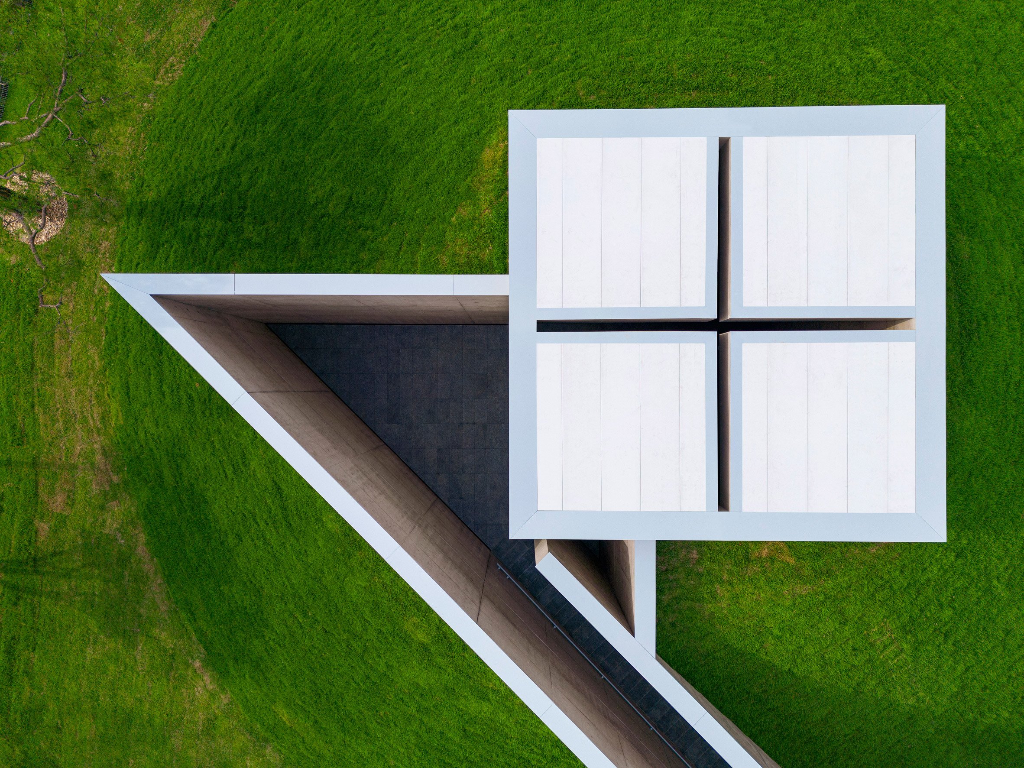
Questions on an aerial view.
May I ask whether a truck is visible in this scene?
No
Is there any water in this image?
No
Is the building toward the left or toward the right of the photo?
right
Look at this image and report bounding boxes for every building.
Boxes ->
[508,105,946,542]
